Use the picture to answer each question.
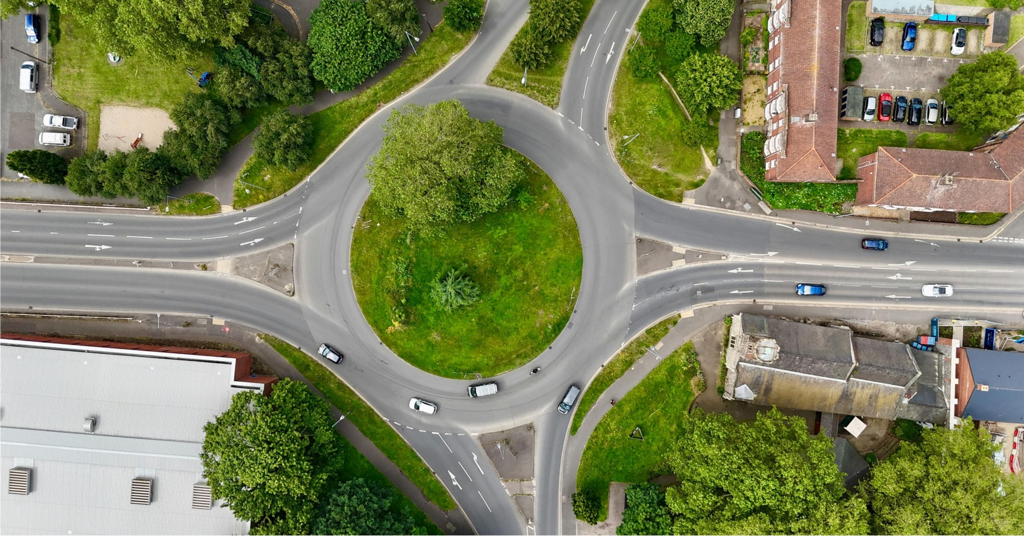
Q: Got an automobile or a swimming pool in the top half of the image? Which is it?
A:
automobile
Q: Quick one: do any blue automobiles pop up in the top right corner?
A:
Yes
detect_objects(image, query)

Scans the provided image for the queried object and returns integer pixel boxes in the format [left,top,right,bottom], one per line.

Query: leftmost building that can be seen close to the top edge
[761,0,842,184]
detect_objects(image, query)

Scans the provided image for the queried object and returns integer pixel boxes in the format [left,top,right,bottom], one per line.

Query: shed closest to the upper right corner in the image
[983,11,1011,47]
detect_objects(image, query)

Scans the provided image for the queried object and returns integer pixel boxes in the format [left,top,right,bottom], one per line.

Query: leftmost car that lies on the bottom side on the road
[316,342,345,365]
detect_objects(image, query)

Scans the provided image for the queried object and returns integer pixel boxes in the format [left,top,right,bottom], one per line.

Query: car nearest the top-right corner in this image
[948,27,967,56]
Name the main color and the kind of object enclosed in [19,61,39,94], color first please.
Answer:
white vehicle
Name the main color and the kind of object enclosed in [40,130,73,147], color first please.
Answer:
white vehicle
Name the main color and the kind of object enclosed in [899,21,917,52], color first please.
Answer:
blue car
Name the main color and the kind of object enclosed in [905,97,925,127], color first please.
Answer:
black car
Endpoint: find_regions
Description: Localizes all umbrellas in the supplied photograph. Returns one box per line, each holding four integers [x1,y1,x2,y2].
[842,414,867,439]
